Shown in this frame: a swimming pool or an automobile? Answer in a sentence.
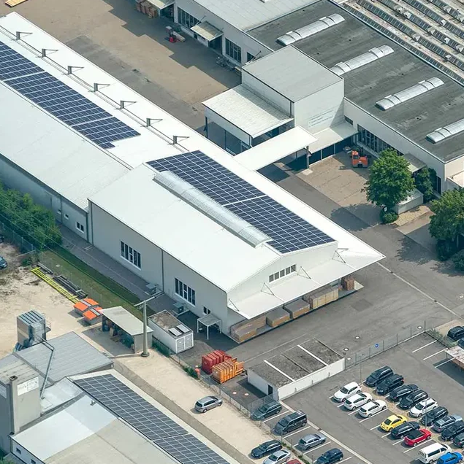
The one in the frame is an automobile.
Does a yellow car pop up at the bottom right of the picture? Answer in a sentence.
Yes, a yellow car shows up at the bottom right of the picture.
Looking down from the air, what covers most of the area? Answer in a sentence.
For the most part, this view shows buildings.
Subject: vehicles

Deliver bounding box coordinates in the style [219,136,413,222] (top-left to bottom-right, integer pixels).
[165,23,178,43]
[332,381,361,400]
[417,405,450,426]
[451,430,464,448]
[357,400,386,418]
[445,324,464,341]
[402,429,432,447]
[440,420,464,439]
[251,438,283,459]
[389,420,421,440]
[374,372,406,393]
[315,445,345,464]
[193,394,225,414]
[342,393,372,410]
[434,451,464,464]
[0,254,8,269]
[261,447,293,464]
[388,383,418,402]
[295,433,327,451]
[251,400,283,421]
[364,364,394,385]
[378,414,408,432]
[342,143,372,166]
[408,396,439,417]
[431,414,463,433]
[417,441,451,464]
[274,408,308,434]
[398,388,430,408]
